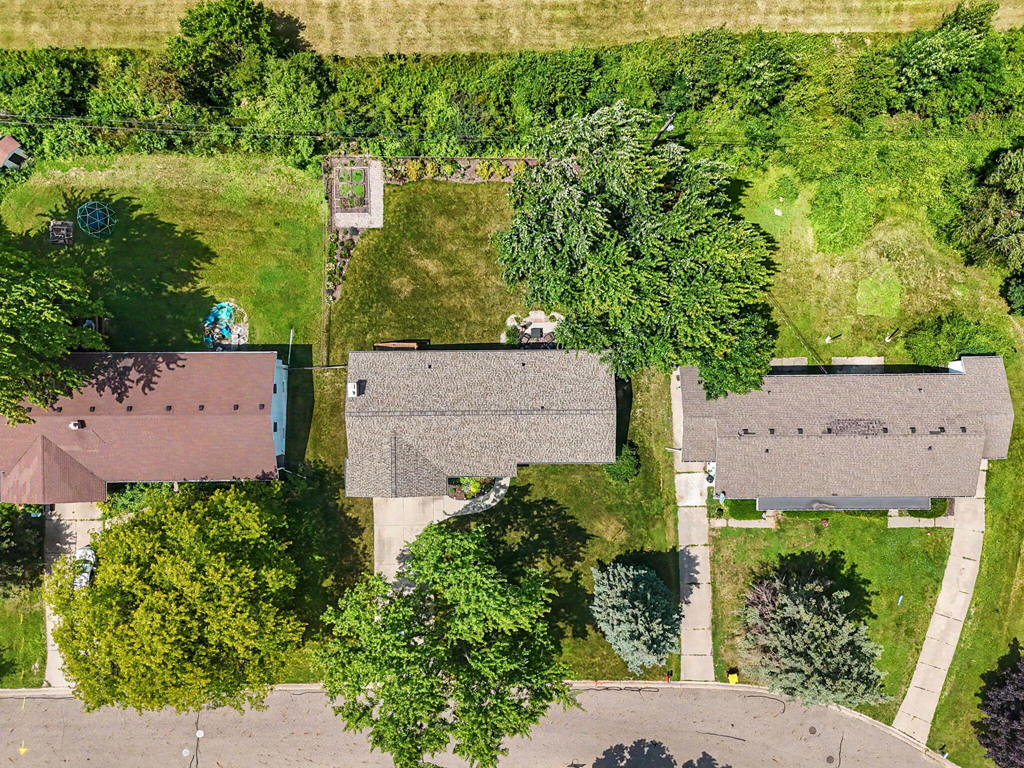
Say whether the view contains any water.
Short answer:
No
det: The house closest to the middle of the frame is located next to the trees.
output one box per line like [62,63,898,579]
[343,349,616,498]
